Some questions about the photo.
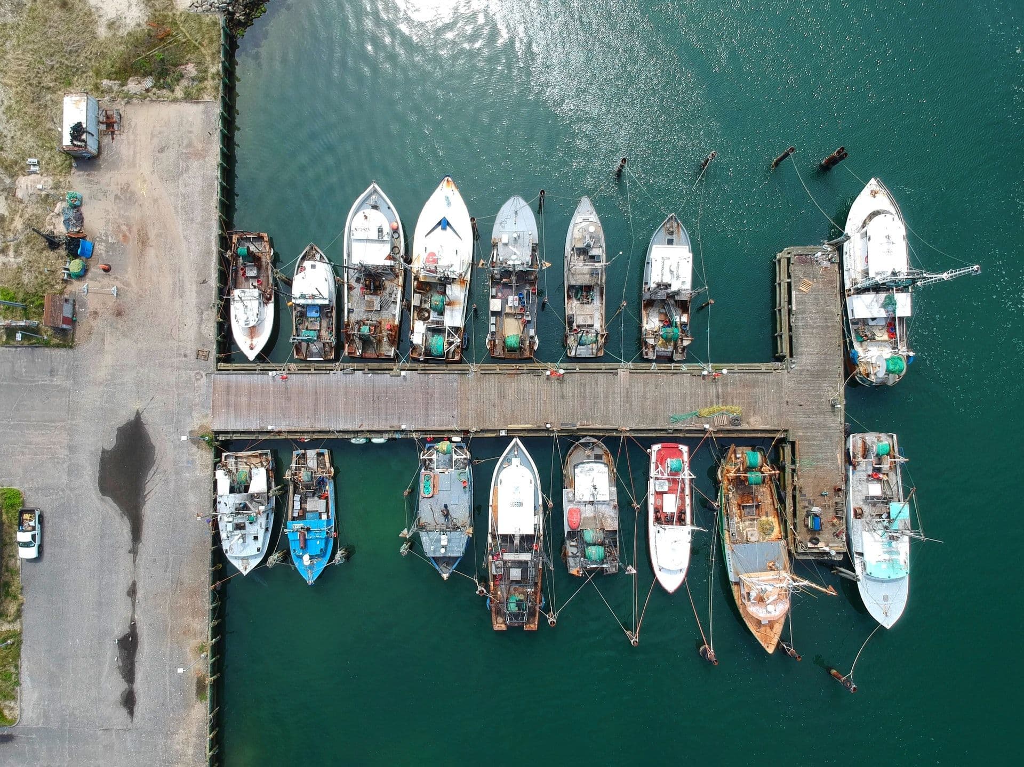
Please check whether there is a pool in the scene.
No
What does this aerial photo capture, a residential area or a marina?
marina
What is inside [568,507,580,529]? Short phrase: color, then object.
red boat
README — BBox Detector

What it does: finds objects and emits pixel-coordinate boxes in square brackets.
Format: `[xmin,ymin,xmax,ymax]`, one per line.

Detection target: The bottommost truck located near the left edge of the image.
[16,506,43,559]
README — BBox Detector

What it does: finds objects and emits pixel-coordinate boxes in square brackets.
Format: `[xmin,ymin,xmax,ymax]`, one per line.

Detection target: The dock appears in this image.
[213,247,847,559]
